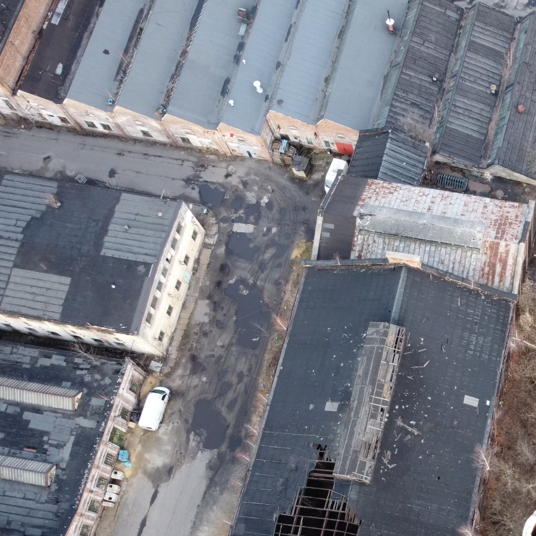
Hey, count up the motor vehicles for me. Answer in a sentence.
The count of motor vehicles comes to 2.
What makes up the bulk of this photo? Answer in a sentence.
The largest share of the image is taken up by buildings.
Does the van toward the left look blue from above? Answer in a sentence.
No, the color of the van toward the left is white.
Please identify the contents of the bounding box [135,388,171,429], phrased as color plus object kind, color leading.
white van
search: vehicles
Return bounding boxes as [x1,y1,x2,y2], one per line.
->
[320,150,347,193]
[135,388,171,429]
